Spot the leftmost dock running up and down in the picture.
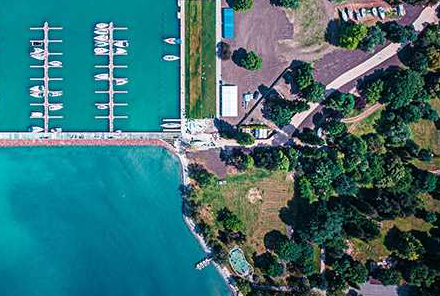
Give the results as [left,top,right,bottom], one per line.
[30,22,63,131]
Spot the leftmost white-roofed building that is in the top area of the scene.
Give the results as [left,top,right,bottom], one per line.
[220,86,238,116]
